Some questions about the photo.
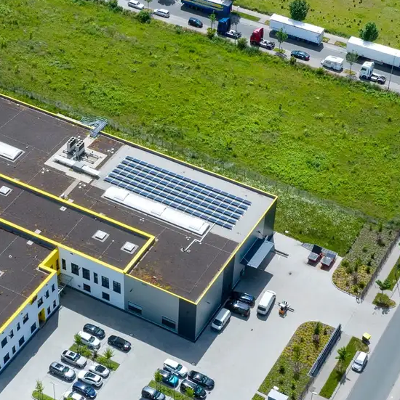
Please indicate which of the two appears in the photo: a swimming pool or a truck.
truck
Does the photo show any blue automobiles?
Yes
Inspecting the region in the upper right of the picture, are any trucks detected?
Yes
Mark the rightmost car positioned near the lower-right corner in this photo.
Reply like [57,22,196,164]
[350,349,369,373]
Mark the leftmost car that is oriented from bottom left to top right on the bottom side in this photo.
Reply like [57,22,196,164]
[211,306,233,331]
